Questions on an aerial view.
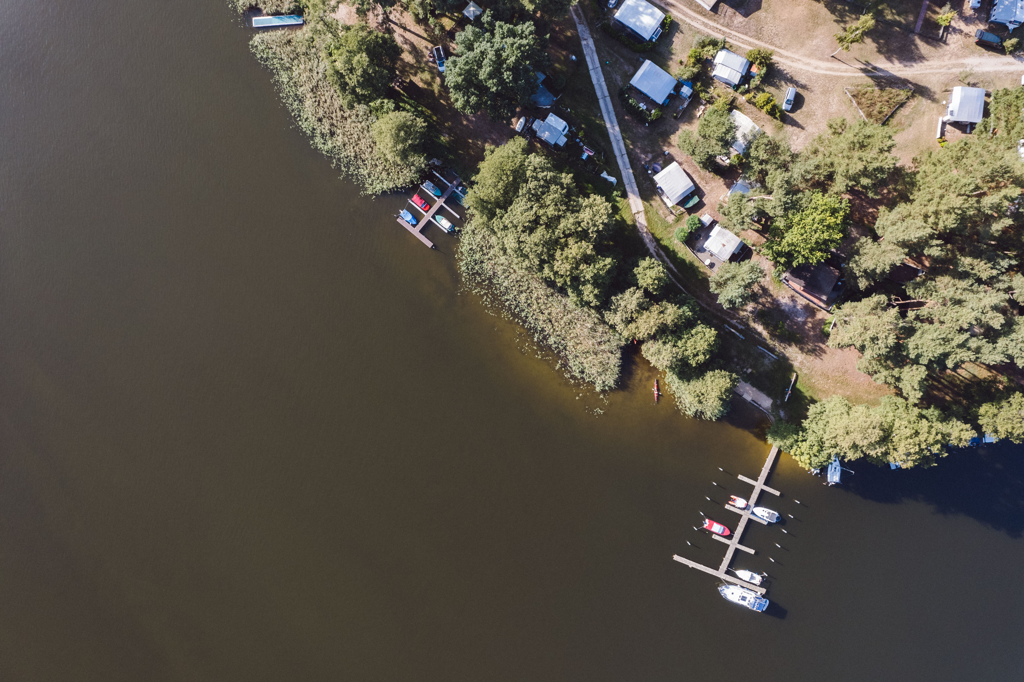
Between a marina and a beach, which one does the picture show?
marina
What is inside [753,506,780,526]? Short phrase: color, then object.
white boat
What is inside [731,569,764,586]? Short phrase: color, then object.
white boat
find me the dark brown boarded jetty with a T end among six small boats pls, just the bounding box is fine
[396,176,462,248]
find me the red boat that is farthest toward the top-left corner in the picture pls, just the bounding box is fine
[409,192,430,211]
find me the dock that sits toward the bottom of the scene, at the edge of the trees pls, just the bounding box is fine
[673,444,781,594]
